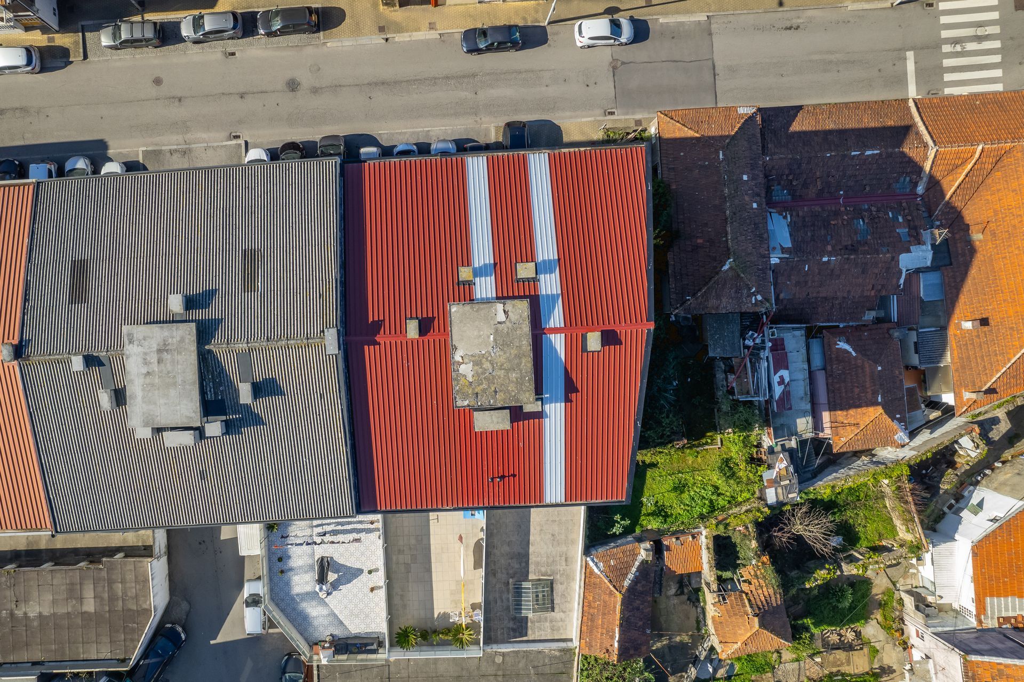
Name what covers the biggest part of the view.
buildings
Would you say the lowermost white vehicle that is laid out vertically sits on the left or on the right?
left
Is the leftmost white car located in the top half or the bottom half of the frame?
top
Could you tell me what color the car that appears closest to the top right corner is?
white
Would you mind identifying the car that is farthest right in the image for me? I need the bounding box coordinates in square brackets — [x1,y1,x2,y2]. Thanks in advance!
[575,14,635,49]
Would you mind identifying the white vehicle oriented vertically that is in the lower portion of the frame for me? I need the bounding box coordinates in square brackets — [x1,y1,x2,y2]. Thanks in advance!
[239,582,266,642]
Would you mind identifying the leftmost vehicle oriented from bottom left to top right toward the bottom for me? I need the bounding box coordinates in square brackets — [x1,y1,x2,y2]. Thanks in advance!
[120,626,178,682]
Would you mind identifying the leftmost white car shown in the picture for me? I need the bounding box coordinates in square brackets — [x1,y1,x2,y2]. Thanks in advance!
[0,42,37,74]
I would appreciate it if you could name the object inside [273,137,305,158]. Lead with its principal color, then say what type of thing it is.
black car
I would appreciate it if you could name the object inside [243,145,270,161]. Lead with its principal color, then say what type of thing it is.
white car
